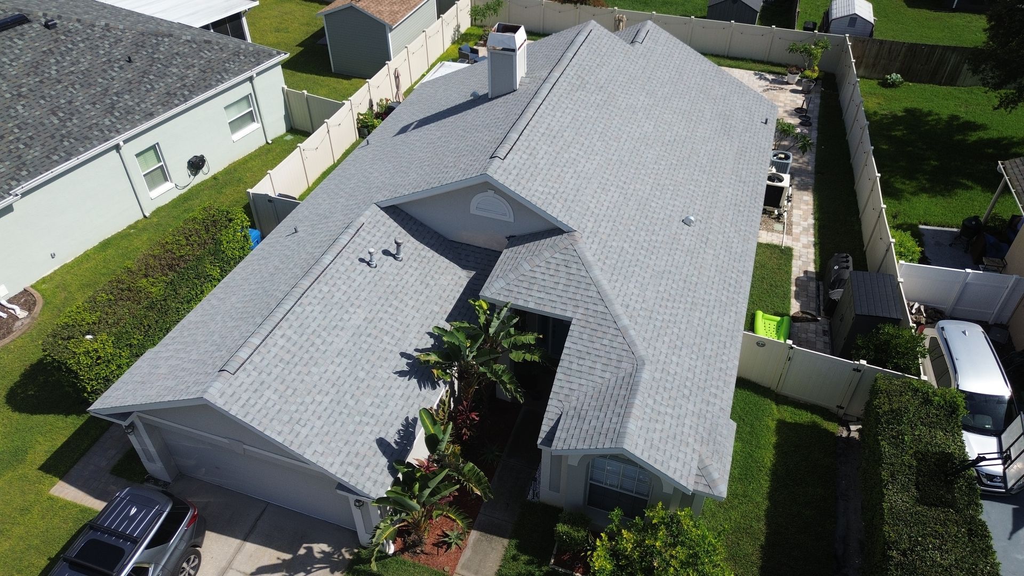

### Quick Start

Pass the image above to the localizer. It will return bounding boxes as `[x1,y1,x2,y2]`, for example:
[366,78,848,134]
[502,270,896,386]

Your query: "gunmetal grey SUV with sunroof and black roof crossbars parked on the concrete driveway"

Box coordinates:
[48,490,208,576]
